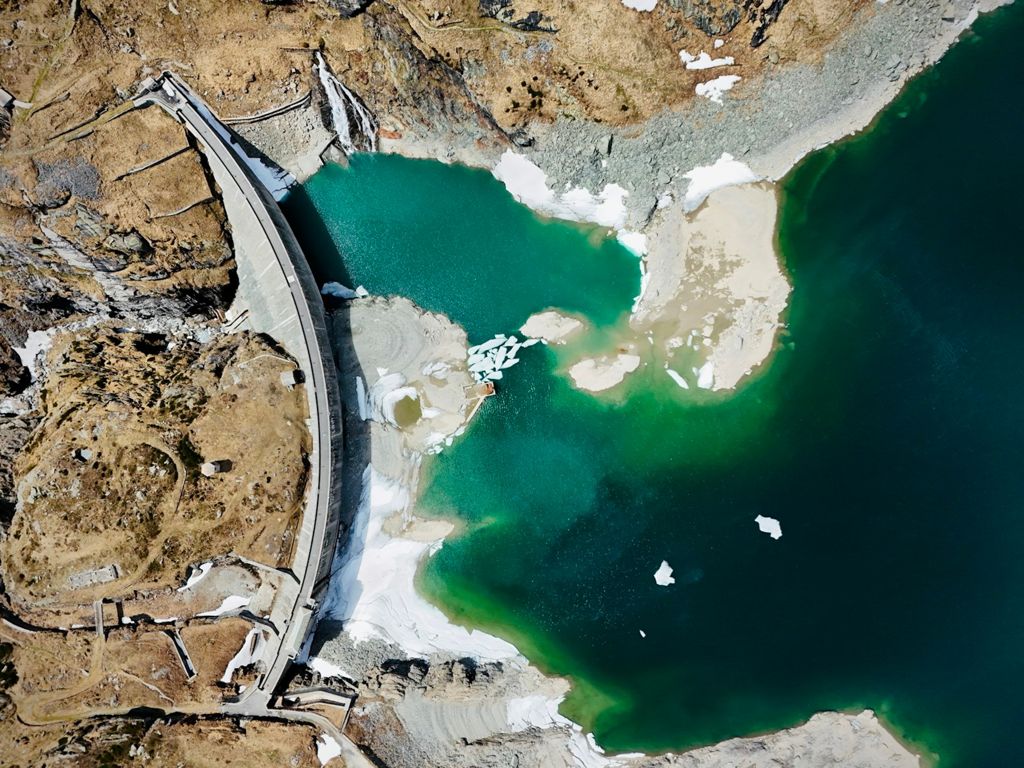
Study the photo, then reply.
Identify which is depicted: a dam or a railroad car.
dam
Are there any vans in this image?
No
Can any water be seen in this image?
Yes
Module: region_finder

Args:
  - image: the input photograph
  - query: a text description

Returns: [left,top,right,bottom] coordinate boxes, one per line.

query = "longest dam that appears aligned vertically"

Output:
[177,102,341,693]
